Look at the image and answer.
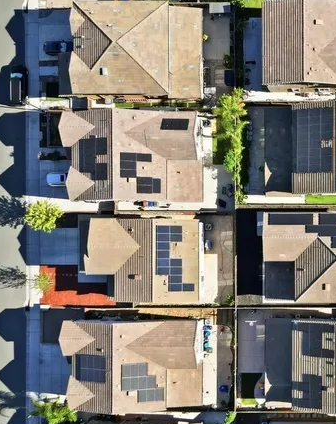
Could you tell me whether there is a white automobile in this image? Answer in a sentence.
No, there's no white automobile here.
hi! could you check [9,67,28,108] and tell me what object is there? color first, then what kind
black vehicle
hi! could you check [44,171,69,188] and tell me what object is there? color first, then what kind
blue car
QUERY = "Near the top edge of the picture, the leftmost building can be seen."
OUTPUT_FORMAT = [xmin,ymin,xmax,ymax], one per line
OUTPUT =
[58,1,203,100]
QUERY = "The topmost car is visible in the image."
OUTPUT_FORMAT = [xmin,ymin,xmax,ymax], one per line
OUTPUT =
[42,38,73,57]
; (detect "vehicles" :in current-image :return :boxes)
[9,67,28,108]
[44,171,69,188]
[42,38,73,57]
